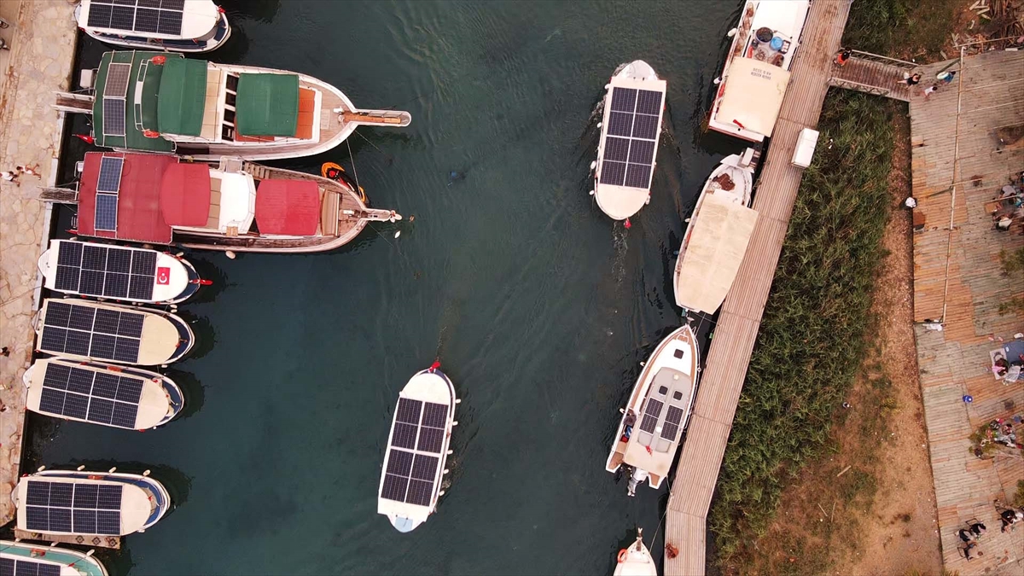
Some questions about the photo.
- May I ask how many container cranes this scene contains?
zero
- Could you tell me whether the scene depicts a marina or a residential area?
marina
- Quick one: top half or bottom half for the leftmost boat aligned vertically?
bottom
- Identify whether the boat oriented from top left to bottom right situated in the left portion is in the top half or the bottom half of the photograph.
top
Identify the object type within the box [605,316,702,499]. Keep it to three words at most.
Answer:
boat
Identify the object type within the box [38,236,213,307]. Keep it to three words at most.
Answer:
boat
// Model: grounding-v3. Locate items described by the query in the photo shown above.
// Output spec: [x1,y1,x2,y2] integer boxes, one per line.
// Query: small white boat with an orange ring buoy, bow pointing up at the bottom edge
[614,524,658,576]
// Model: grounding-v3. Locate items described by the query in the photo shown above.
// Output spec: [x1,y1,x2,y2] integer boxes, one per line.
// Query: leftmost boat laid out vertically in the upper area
[584,60,665,237]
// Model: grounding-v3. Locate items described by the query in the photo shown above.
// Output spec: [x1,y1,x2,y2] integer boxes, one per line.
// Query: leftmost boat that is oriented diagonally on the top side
[332,167,374,206]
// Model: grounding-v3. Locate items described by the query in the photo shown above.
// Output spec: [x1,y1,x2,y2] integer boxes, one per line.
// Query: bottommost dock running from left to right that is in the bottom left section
[14,528,121,549]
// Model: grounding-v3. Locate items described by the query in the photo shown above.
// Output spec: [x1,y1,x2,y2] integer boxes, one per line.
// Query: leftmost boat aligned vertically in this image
[378,354,461,535]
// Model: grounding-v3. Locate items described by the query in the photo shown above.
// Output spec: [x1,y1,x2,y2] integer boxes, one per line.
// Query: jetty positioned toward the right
[664,0,852,576]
